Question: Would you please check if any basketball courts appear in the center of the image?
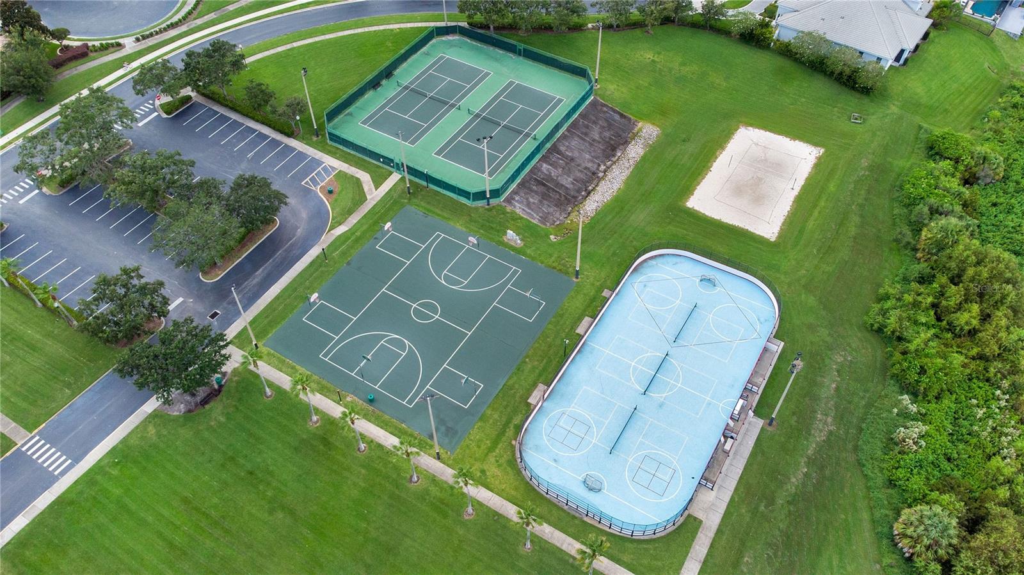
Yes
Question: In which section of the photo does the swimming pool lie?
top right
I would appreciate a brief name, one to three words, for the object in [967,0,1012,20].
swimming pool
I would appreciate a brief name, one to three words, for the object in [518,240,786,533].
sports court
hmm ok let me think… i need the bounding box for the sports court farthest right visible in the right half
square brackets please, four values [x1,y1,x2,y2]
[682,123,828,242]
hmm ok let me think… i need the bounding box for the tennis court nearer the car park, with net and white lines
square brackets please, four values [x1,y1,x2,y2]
[360,53,491,146]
